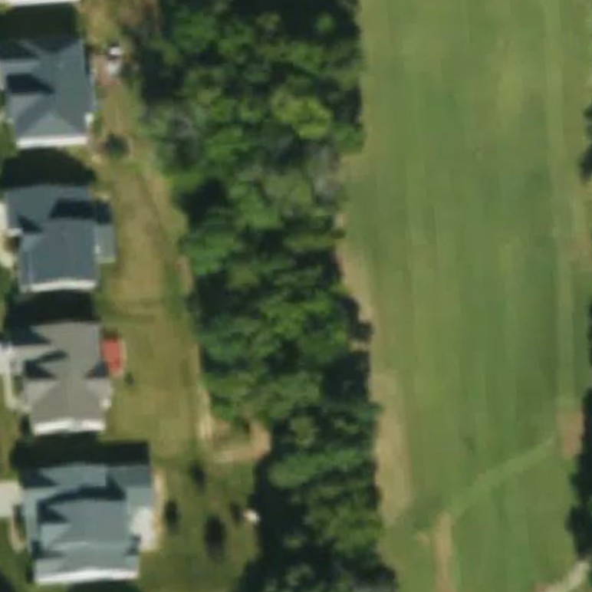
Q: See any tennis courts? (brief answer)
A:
No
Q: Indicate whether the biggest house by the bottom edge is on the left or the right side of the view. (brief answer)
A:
left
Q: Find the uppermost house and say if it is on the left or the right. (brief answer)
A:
left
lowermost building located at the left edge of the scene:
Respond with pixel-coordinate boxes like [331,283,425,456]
[14,463,153,588]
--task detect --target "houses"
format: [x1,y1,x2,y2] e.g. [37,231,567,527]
[0,40,99,146]
[0,321,123,431]
[14,463,153,588]
[1,181,117,294]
